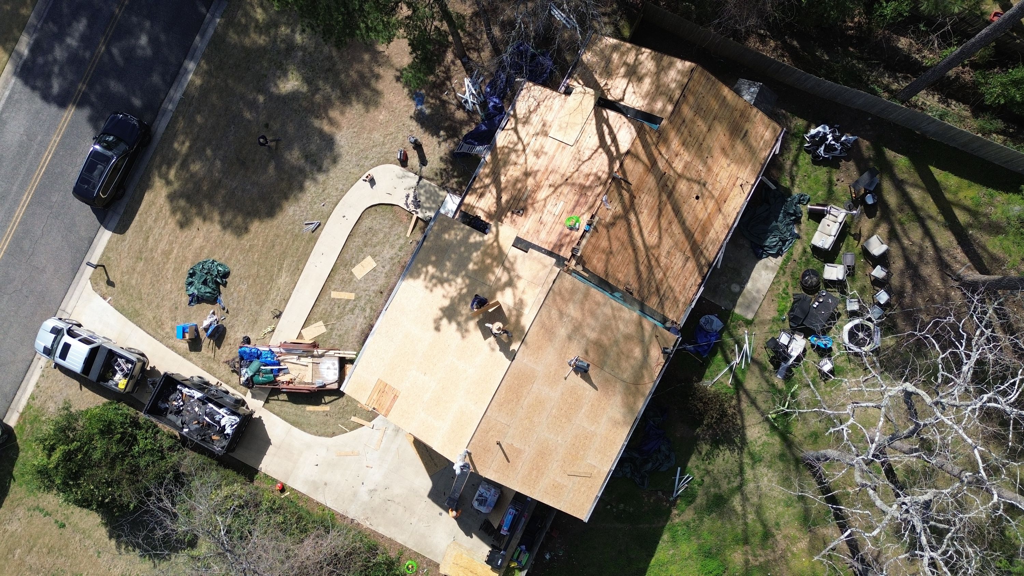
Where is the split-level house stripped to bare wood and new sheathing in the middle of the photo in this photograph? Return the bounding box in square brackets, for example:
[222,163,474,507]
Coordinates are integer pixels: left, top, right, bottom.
[338,31,788,524]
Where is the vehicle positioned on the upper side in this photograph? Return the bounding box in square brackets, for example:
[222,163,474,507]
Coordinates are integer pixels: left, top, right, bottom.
[72,118,146,214]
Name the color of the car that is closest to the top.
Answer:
black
